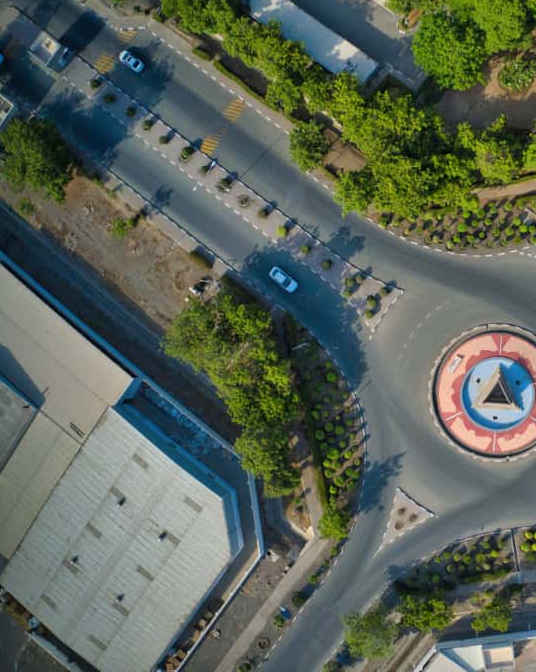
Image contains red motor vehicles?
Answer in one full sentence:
No, this view has no red motor vehicle in it.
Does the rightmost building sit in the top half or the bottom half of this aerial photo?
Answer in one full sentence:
You can find the rightmost building in the bottom half.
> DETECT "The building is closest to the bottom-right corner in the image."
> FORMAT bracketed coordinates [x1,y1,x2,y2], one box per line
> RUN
[484,641,516,669]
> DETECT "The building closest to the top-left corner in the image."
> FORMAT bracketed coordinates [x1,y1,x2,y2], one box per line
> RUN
[30,32,72,72]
